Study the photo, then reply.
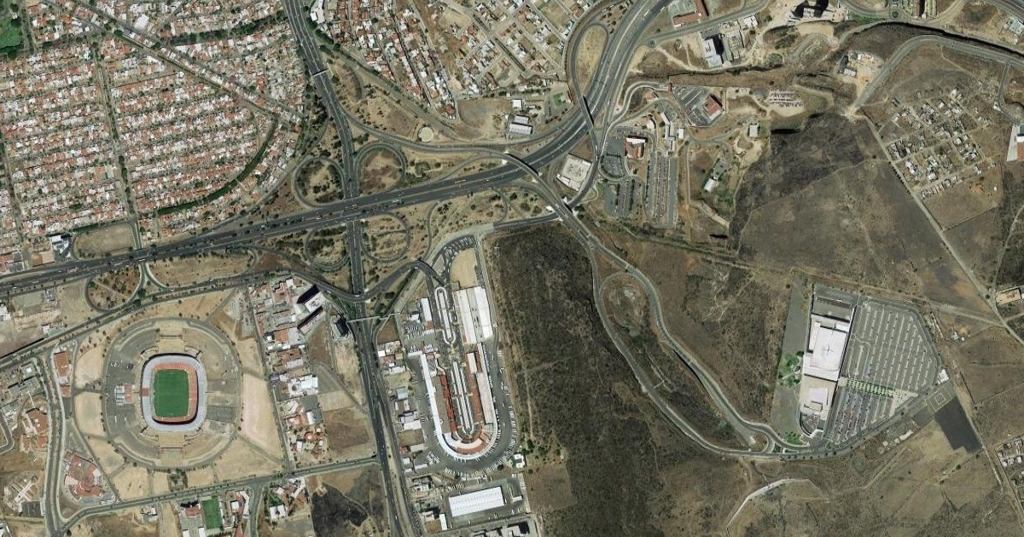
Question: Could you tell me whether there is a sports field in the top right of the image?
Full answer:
No, there's no sports field to be seen in the top right of the image.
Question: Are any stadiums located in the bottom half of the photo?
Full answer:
Yes, you'll find a stadium in the bottom half of the photo.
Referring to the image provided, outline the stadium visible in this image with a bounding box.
[133,352,220,449]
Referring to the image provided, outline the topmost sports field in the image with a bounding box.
[154,369,189,418]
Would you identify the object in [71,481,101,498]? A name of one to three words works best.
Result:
building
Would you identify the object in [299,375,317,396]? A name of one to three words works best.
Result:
house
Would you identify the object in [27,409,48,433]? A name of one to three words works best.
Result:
building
